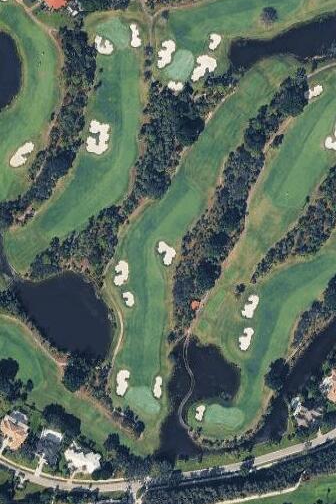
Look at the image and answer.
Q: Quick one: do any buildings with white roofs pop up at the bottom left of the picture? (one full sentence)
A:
Yes, a building with a white roof can be seen at the bottom left of the picture.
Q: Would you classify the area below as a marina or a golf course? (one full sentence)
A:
It's a golf course.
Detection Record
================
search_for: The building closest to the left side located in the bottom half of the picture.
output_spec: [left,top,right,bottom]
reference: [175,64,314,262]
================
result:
[0,411,31,450]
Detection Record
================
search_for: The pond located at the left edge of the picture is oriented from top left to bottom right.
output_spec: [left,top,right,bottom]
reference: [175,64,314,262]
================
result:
[0,243,115,362]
